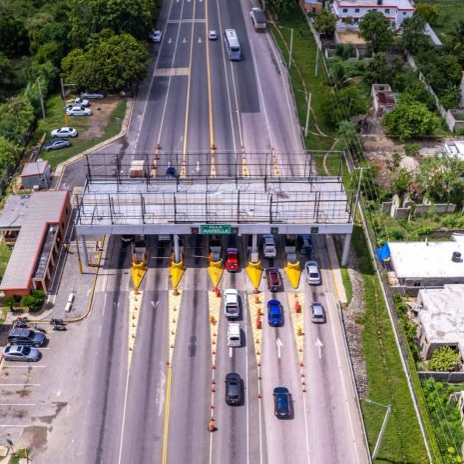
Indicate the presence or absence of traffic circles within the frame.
No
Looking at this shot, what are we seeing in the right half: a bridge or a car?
car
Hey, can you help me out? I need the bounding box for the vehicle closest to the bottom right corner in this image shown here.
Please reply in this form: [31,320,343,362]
[271,383,291,416]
